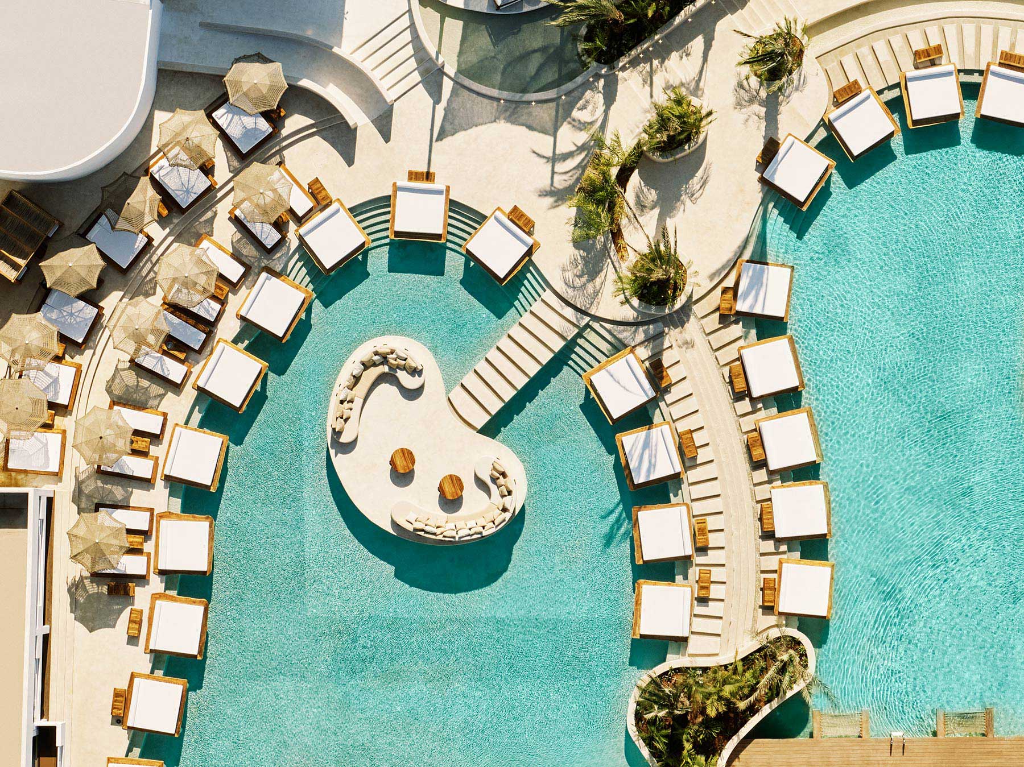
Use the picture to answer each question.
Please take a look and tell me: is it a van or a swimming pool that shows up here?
swimming pool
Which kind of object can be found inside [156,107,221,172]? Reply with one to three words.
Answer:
umbrella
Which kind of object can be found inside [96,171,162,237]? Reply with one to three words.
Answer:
umbrella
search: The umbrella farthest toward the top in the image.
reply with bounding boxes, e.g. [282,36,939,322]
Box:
[223,50,290,116]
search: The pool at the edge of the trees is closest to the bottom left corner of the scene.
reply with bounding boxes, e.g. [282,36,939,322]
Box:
[126,195,692,767]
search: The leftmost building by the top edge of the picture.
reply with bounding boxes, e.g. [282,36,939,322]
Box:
[0,0,160,182]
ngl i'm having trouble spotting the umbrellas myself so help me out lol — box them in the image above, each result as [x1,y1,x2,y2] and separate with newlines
[96,171,162,237]
[39,231,105,298]
[0,376,50,439]
[156,107,221,172]
[70,405,134,469]
[155,243,221,309]
[67,507,132,572]
[105,295,171,361]
[231,160,294,223]
[223,50,290,116]
[0,311,61,374]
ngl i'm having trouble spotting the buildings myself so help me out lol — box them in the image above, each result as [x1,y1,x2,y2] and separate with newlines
[0,0,160,182]
[0,485,66,767]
